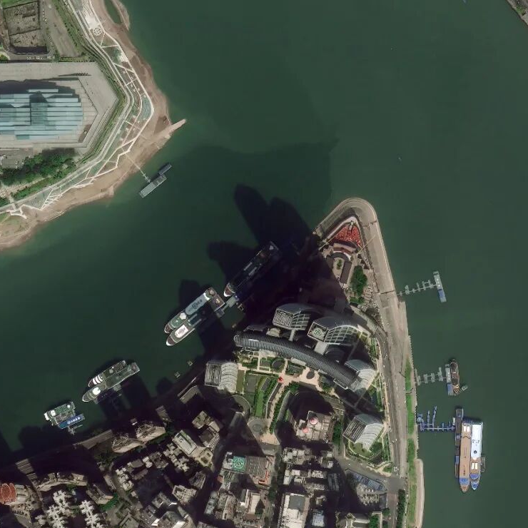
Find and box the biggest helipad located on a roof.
[233,457,245,469]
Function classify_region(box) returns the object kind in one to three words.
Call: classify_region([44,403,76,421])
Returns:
ship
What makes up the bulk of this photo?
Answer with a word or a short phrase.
water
